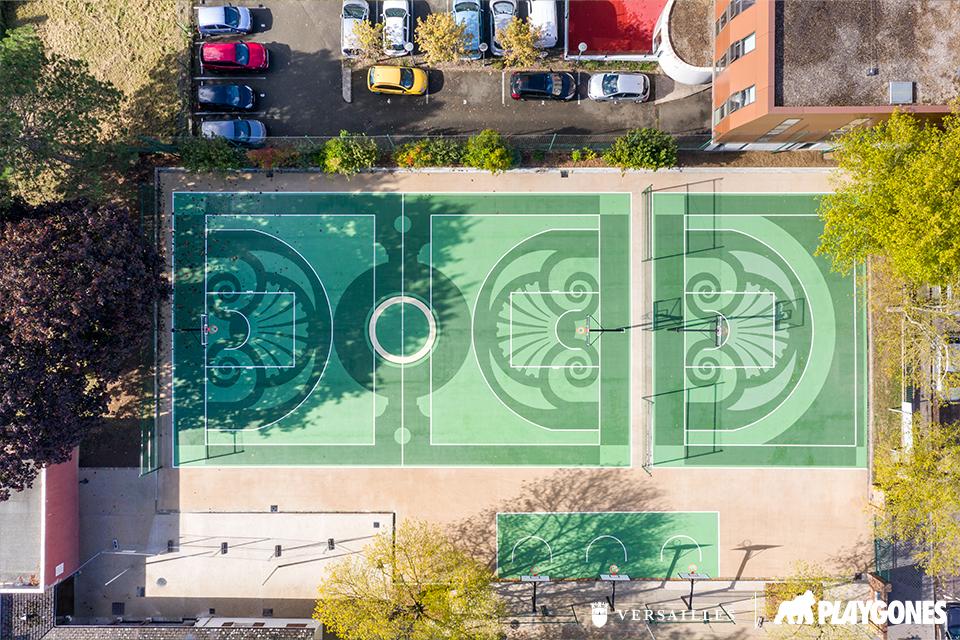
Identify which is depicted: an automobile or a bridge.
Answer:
automobile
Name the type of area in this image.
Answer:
sports ground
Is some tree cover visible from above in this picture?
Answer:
Yes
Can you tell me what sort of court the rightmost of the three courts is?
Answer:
basketball court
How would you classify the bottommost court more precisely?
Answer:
basketball court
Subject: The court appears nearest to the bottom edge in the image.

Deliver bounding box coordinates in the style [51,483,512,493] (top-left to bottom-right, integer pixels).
[497,513,720,579]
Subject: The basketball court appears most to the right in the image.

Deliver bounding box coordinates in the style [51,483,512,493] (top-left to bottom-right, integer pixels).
[652,192,867,468]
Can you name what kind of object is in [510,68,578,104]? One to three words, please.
car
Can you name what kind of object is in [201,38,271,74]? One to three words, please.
car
